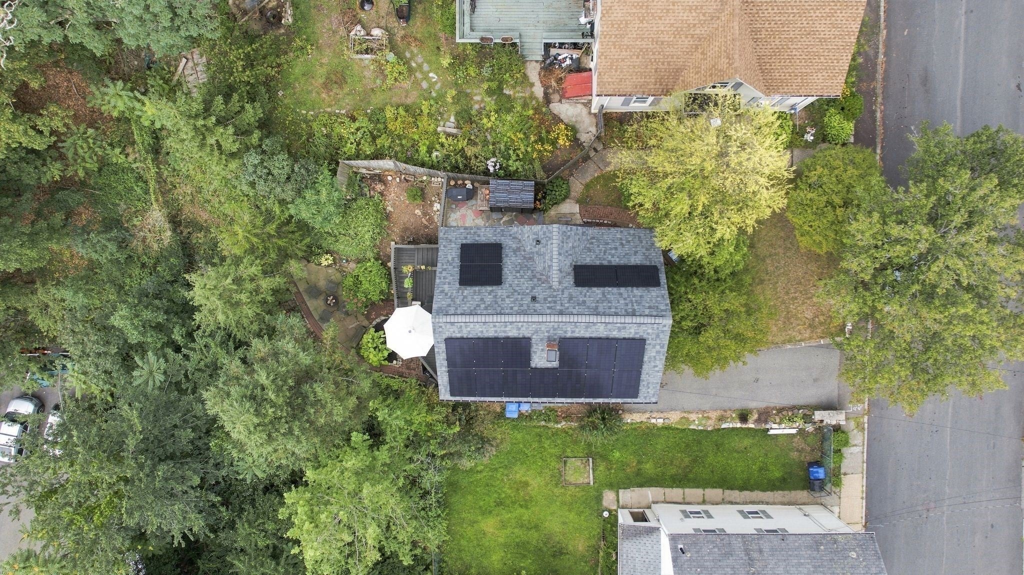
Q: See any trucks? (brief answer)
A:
No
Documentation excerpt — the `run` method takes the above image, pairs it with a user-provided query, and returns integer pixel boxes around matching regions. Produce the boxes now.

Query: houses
[431,222,672,405]
[592,0,867,124]
[652,502,887,575]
